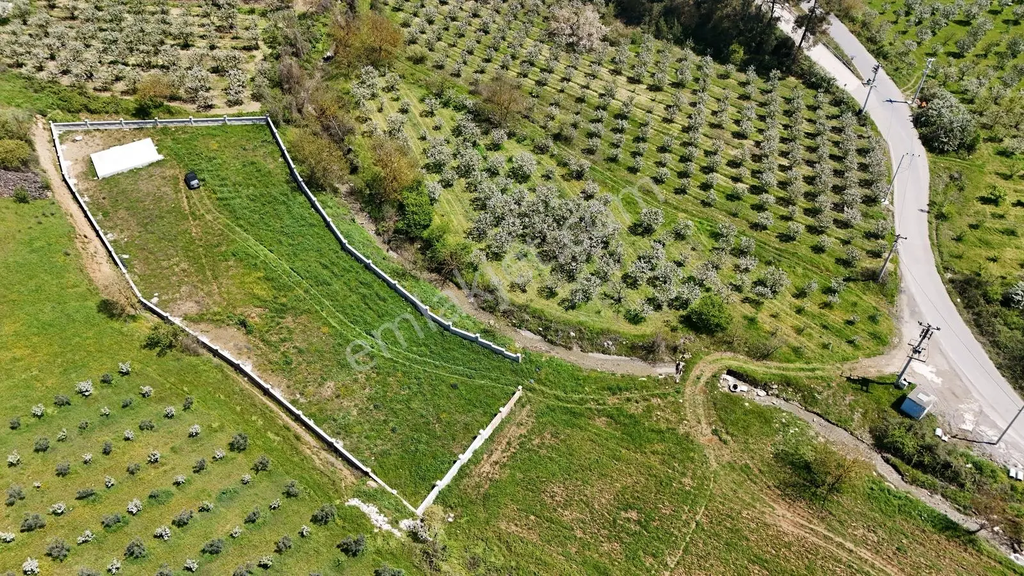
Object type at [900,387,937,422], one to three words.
shed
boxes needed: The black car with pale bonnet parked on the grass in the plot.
[184,172,200,189]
